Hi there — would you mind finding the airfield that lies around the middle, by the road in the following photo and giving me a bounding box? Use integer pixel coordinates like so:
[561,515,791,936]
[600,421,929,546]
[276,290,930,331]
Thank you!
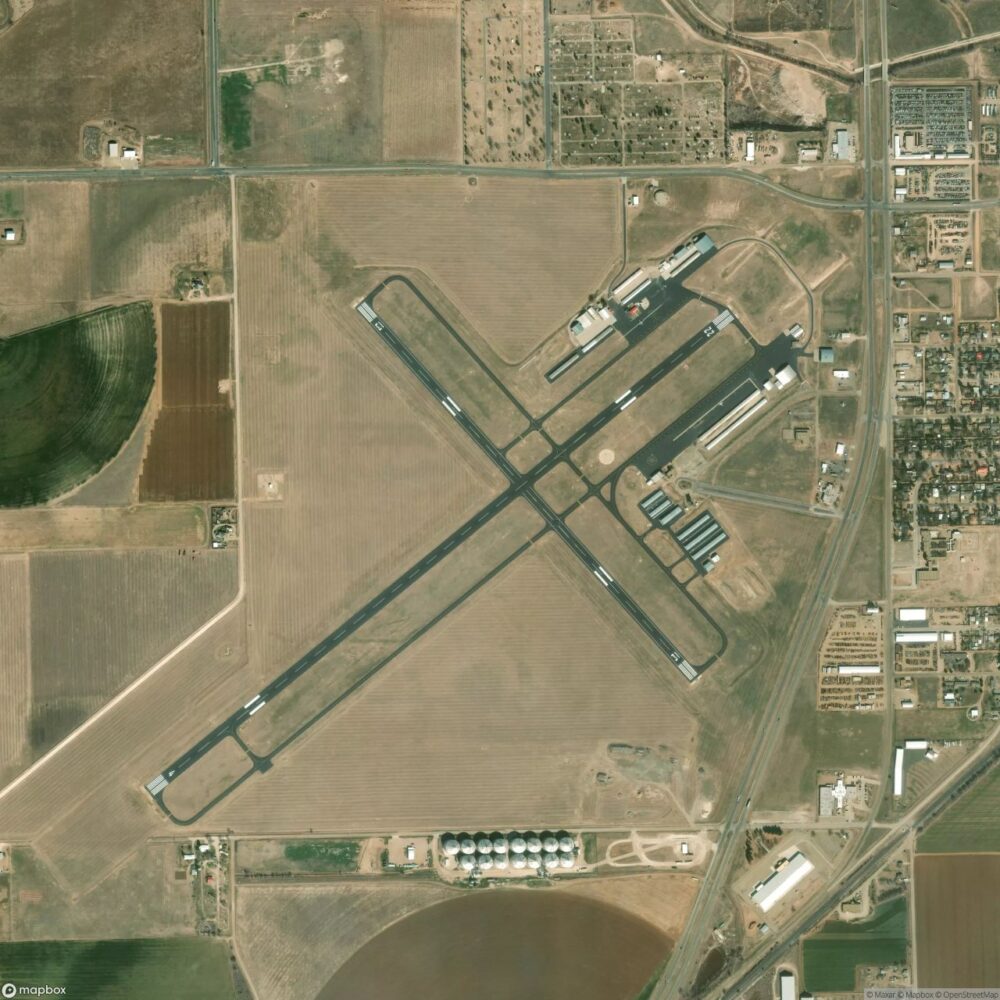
[146,243,819,823]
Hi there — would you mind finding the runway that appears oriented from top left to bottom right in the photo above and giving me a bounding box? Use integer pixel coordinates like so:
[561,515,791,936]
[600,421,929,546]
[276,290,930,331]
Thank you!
[357,301,698,681]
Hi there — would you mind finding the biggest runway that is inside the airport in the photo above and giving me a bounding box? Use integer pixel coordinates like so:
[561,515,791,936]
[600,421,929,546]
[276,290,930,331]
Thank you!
[146,310,734,796]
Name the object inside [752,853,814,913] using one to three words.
building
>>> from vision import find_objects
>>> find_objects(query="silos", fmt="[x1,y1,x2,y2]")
[544,854,560,870]
[479,855,493,872]
[560,854,574,870]
[560,838,574,854]
[493,855,509,871]
[444,840,459,856]
[460,840,476,856]
[512,854,526,871]
[478,840,492,855]
[526,854,542,871]
[512,839,526,855]
[544,839,559,854]
[526,839,542,854]
[461,856,477,872]
[492,839,508,855]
